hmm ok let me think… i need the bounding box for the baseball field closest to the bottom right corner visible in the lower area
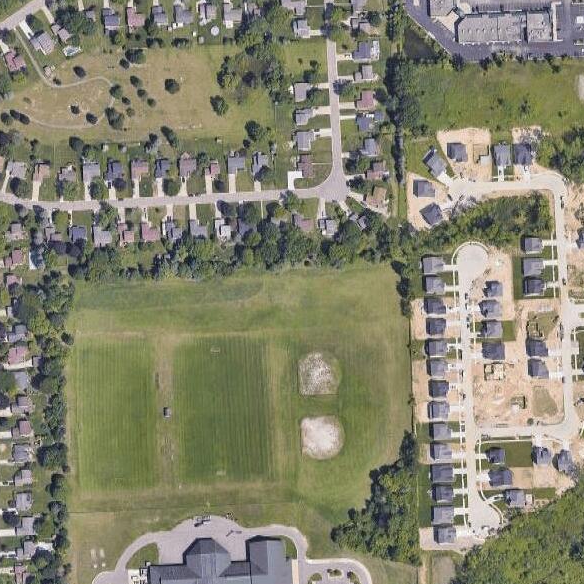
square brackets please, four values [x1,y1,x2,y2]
[296,411,350,465]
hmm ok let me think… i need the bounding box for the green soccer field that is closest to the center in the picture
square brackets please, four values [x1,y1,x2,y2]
[173,329,277,486]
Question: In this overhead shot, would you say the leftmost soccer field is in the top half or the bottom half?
bottom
